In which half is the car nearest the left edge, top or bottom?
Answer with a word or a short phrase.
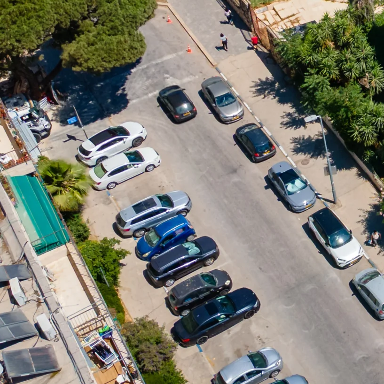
top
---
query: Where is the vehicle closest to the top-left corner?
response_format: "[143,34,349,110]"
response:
[8,93,54,141]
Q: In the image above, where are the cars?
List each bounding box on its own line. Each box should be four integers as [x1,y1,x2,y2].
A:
[136,233,223,290]
[106,186,194,241]
[154,83,196,126]
[130,209,198,256]
[8,93,54,141]
[161,267,233,317]
[233,122,276,164]
[66,119,147,167]
[85,142,162,191]
[346,265,384,325]
[263,157,318,214]
[254,366,315,384]
[196,75,245,123]
[203,344,285,384]
[304,207,363,269]
[166,285,260,350]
